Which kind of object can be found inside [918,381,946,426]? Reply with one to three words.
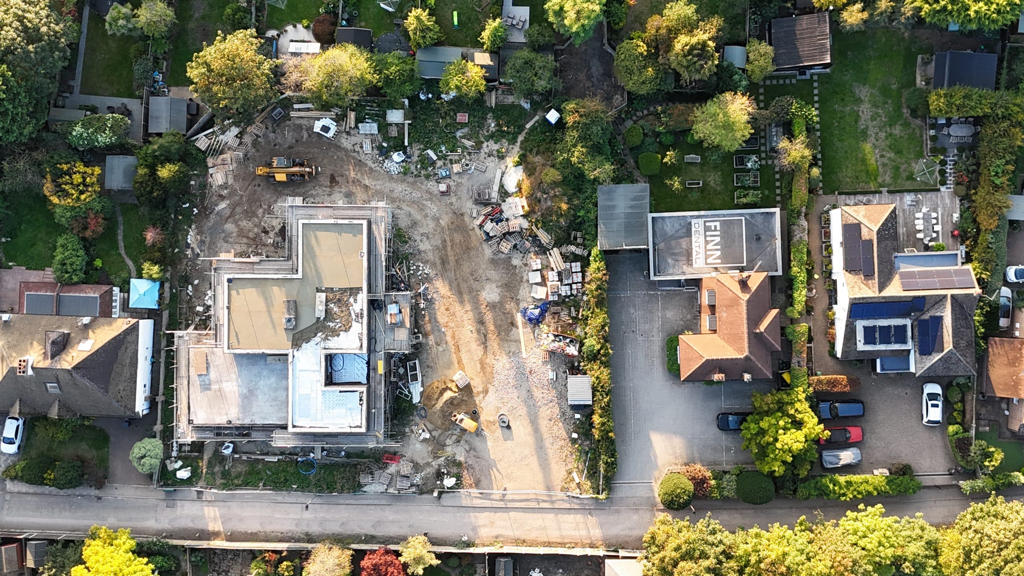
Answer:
car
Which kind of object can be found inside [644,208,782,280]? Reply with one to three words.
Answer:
building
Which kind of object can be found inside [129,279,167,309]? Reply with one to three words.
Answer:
gazebo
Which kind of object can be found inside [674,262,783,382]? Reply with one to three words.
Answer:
house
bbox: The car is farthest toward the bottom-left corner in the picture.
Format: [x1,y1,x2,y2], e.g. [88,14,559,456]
[0,417,29,456]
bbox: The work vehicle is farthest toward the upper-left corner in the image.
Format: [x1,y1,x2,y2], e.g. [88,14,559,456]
[254,154,330,185]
